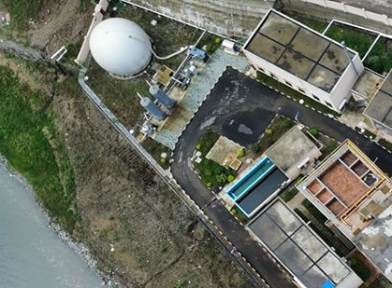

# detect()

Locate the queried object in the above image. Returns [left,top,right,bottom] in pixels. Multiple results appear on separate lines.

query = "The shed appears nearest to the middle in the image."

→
[206,135,243,169]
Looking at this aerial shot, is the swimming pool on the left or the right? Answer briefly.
right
